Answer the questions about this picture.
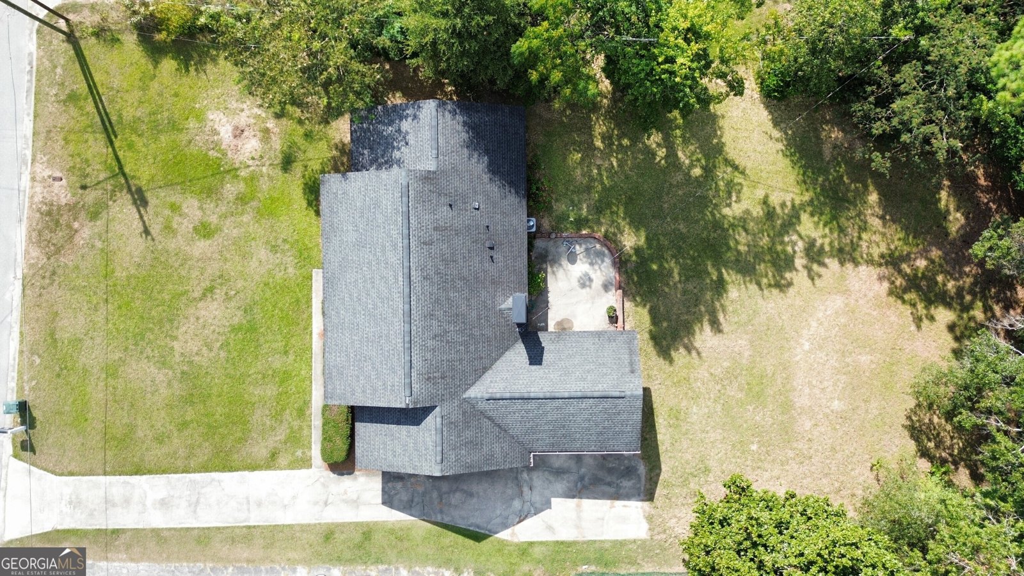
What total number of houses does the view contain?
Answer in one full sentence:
Altogether the scene contains 1 house.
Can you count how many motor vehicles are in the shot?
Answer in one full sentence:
I count no motor vehicles.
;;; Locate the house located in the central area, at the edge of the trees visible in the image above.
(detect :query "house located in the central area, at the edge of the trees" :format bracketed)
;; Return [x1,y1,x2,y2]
[320,101,644,476]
